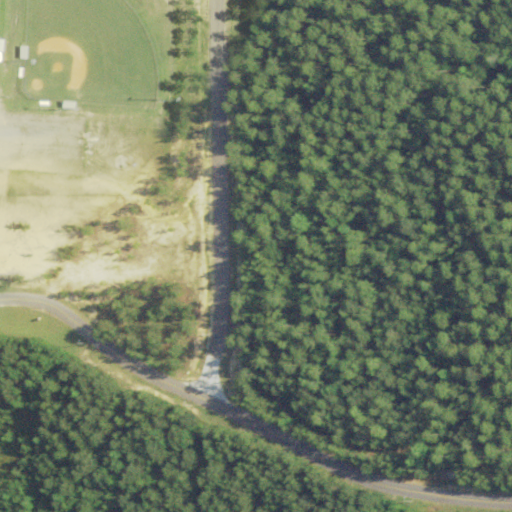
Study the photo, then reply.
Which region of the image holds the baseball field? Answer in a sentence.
The baseball field is located in the top left region of the scene.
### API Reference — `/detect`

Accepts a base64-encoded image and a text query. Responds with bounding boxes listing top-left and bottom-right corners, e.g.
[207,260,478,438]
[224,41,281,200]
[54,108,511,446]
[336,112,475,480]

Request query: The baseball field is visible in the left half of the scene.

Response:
[18,0,156,102]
